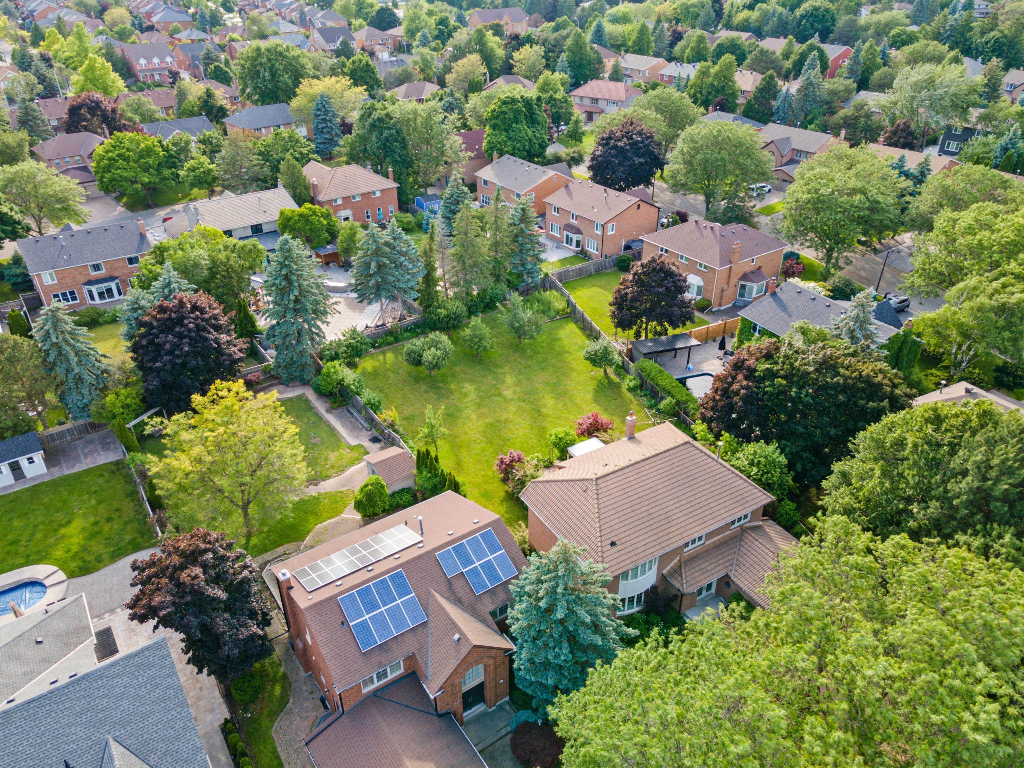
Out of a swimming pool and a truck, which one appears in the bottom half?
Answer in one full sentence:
The one visible in the bottom half is a swimming pool.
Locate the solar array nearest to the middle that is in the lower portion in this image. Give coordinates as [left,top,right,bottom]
[436,526,516,591]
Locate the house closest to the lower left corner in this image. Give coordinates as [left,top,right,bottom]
[0,593,214,768]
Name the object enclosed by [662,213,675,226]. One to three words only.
vehicle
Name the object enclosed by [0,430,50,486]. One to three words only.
shed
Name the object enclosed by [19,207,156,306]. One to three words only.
house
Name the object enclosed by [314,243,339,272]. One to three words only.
building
